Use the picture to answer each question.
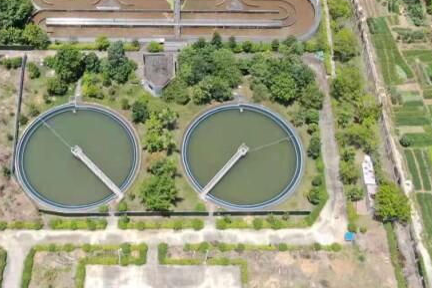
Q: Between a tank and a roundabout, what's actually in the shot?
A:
tank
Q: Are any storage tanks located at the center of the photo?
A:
Yes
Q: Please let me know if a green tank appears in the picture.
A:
Yes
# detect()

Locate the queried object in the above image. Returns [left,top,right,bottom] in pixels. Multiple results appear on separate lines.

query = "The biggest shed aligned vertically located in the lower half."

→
[358,154,377,206]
